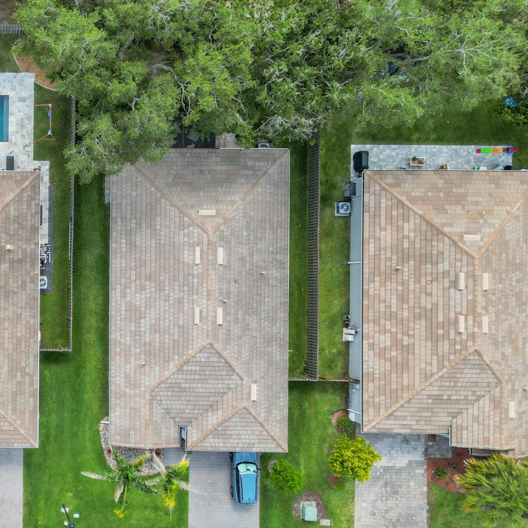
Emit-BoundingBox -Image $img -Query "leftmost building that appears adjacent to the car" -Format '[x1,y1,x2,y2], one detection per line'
[103,147,294,453]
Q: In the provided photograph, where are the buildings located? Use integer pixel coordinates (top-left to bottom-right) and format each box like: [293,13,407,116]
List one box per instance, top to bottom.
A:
[103,147,294,453]
[342,168,528,456]
[0,170,42,449]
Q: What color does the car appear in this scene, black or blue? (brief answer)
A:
blue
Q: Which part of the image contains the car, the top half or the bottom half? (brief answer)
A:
bottom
